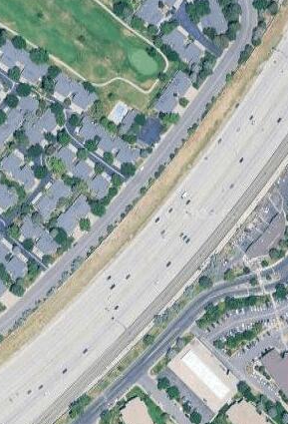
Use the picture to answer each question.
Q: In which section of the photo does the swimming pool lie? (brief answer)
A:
top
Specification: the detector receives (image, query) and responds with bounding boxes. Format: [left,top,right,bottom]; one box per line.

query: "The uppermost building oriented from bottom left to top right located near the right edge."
[247,213,286,254]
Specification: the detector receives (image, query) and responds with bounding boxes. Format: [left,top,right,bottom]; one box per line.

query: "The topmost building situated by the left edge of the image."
[0,40,49,84]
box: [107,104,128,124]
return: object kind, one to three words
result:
swimming pool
